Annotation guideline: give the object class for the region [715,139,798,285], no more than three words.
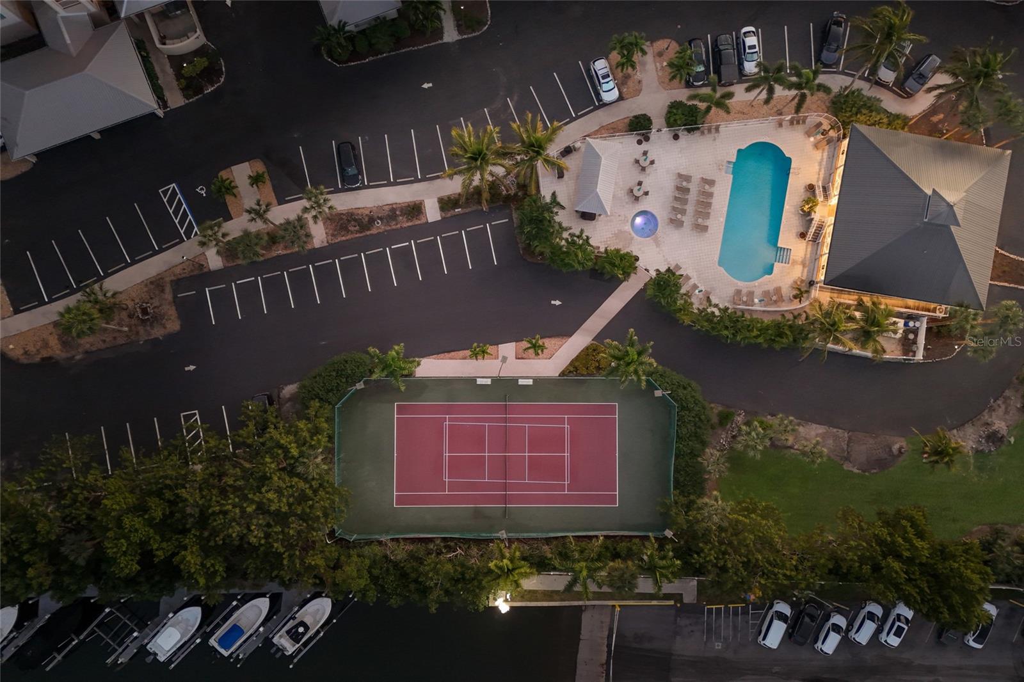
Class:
swimming pool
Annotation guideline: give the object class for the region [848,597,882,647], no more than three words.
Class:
car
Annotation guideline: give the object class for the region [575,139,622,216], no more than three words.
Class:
building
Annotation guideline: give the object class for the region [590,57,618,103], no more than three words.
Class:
car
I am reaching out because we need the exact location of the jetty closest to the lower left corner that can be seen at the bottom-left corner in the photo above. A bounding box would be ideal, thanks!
[0,591,64,663]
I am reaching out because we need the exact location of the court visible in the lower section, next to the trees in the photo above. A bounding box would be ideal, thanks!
[346,382,666,533]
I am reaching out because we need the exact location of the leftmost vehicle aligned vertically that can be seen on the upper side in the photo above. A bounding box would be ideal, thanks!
[336,141,361,188]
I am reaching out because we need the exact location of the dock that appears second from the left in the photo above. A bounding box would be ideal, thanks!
[119,591,196,663]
